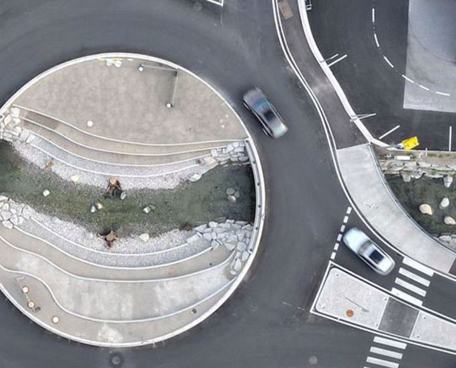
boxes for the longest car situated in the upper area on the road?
[244,89,286,137]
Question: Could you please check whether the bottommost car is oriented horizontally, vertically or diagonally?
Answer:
diagonally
